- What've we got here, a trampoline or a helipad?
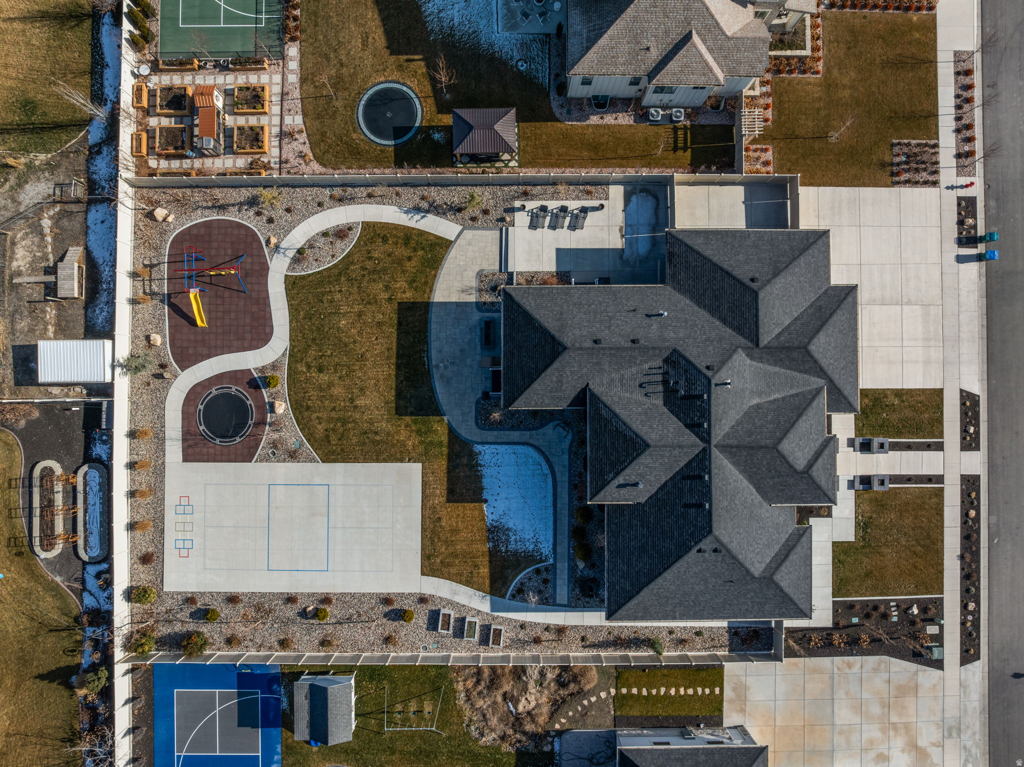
trampoline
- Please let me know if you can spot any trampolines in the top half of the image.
Yes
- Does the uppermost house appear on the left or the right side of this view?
right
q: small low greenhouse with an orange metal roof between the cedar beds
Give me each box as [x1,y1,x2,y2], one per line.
[194,86,223,153]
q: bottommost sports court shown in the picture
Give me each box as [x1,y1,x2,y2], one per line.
[153,663,281,767]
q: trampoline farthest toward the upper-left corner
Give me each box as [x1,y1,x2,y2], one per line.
[357,82,421,146]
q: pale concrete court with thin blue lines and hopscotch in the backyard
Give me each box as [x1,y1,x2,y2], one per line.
[163,463,421,593]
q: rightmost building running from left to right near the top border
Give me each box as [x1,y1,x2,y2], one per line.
[564,0,816,106]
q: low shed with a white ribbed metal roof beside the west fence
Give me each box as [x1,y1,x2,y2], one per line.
[37,340,116,383]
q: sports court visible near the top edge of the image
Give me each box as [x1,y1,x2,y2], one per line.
[159,0,284,57]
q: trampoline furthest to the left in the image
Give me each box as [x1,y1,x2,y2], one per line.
[195,386,255,446]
